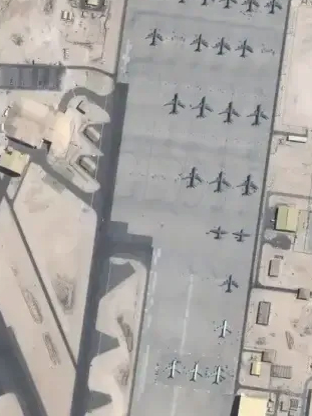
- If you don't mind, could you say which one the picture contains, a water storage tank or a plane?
plane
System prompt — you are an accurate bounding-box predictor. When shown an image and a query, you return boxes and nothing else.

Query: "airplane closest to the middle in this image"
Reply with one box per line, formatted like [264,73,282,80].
[182,167,202,189]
